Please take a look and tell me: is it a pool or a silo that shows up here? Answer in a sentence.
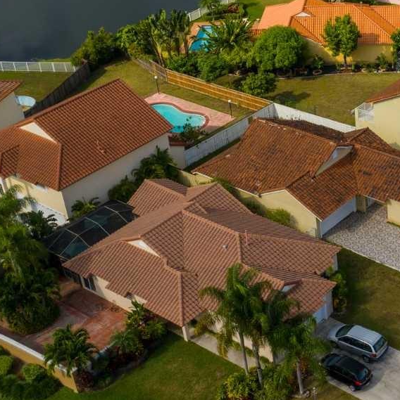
It is a pool that can be seen here.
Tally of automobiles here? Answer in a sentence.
The photo contains 2 automobiles.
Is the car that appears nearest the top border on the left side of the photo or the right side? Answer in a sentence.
The car that appears nearest the top border appears in the right half of the scene.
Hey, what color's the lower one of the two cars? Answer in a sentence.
In this view, the lower one of the two cars is black.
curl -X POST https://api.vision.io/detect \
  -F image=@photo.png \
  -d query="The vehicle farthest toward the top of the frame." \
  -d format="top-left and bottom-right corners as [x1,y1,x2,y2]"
[326,324,391,366]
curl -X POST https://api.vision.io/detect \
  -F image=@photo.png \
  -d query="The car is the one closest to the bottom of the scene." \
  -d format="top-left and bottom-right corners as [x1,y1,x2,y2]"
[318,355,376,392]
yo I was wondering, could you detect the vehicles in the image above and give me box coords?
[318,355,376,392]
[326,324,391,366]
